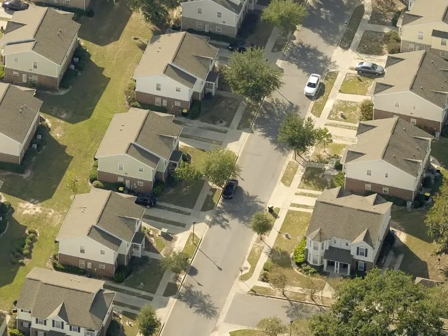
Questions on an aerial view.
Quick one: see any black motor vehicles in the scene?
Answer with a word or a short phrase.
Yes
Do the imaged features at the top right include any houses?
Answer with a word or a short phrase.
Yes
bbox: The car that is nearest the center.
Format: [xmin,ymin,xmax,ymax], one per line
[221,177,239,200]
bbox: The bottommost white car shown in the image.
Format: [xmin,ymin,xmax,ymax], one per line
[305,75,321,97]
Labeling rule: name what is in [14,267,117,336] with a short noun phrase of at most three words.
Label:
house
